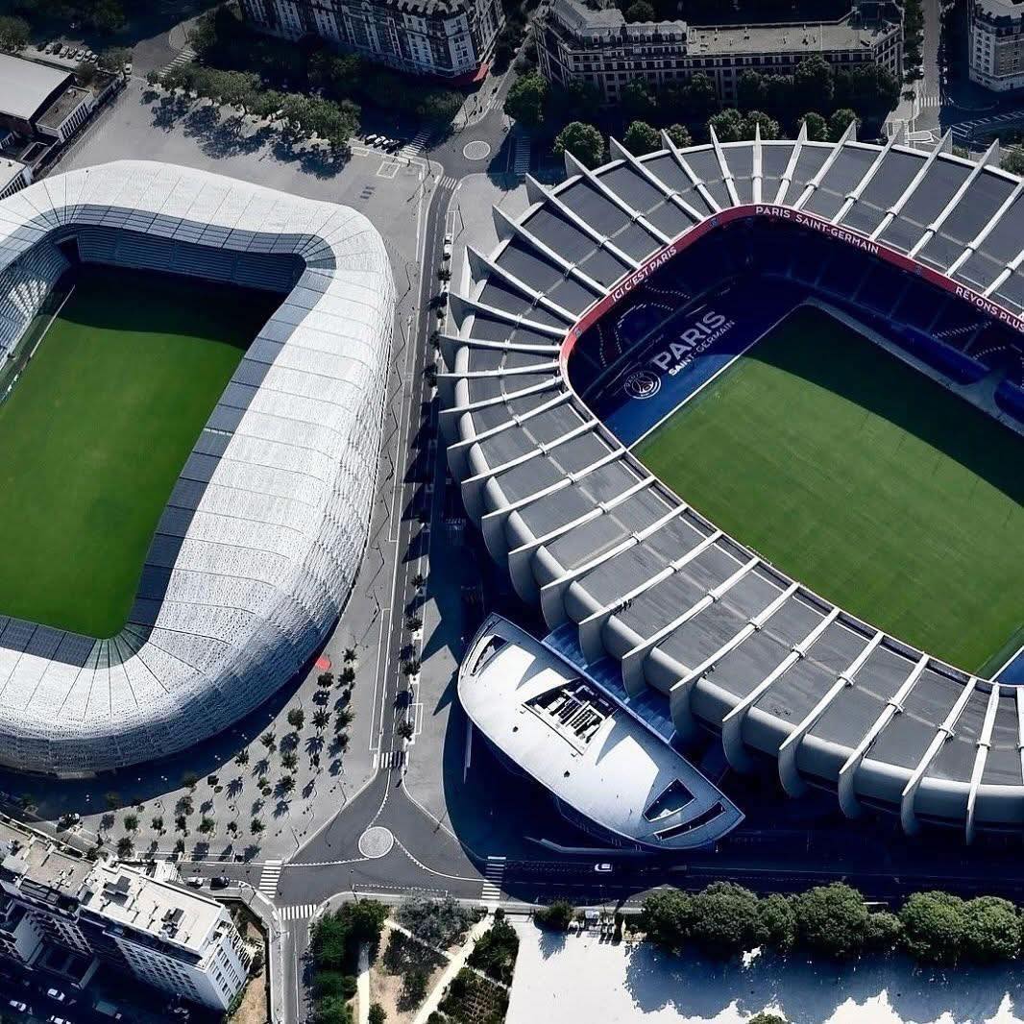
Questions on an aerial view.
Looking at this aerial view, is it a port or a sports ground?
sports ground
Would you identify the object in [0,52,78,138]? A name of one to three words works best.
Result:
building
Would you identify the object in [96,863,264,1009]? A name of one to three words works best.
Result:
building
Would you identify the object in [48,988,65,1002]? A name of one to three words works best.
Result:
car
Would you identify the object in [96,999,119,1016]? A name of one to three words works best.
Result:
vehicle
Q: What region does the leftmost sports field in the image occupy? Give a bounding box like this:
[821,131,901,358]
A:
[0,278,277,634]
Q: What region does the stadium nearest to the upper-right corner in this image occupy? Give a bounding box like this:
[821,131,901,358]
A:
[436,120,1024,848]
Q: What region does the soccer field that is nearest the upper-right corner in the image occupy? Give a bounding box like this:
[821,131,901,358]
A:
[623,300,1024,681]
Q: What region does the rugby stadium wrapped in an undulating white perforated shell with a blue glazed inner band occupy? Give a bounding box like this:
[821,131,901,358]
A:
[0,161,398,774]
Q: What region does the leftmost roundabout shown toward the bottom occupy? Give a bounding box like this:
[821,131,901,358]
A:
[358,826,394,858]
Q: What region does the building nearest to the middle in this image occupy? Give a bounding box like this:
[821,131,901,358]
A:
[460,614,744,862]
